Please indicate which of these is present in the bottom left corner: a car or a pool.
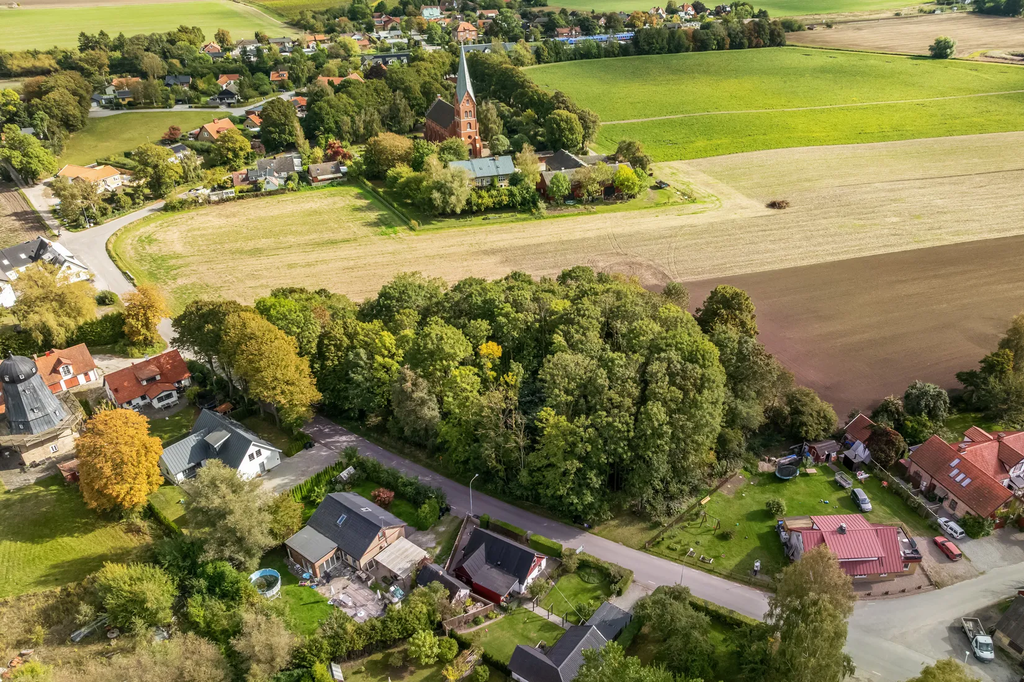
pool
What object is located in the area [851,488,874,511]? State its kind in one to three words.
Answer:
car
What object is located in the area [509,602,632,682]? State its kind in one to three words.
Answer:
house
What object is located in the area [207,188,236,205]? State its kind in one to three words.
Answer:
building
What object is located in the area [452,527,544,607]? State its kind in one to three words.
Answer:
house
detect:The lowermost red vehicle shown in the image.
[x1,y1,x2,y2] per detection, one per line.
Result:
[932,537,966,562]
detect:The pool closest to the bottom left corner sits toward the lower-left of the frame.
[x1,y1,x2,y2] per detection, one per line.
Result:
[250,567,285,600]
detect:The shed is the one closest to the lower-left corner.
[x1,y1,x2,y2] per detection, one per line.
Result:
[58,450,90,485]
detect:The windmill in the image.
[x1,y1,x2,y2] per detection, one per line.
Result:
[0,344,86,467]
